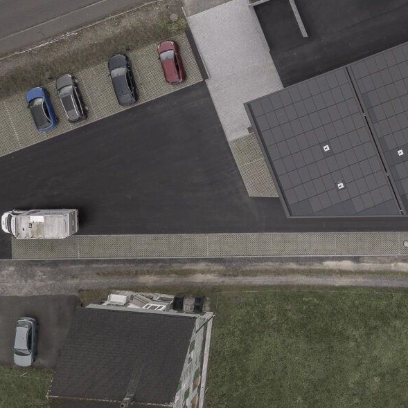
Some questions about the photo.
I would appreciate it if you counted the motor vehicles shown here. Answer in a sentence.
The count of motor vehicles comes to 6.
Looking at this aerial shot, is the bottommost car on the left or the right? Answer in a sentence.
You can find the bottommost car on the left side of the picture.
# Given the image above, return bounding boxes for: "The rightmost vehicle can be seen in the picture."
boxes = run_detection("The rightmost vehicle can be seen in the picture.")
[158,40,188,83]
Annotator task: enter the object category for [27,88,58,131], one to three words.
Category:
car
